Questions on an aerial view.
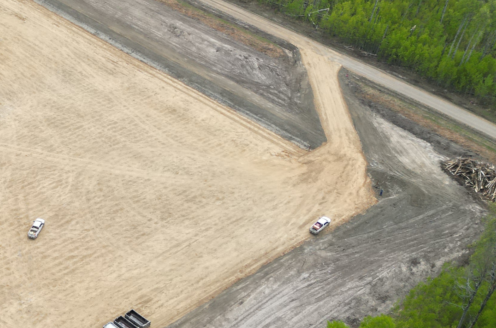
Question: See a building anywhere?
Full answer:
No, there is no building in the image.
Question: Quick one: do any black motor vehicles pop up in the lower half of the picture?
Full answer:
No, in the lower half of the picture there is no black motor vehicle.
